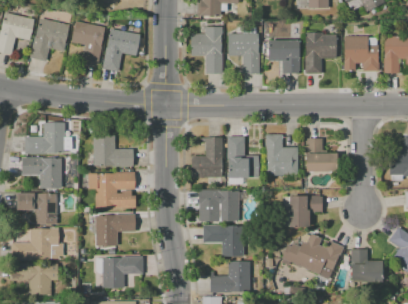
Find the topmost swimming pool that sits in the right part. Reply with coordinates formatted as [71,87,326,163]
[310,174,332,186]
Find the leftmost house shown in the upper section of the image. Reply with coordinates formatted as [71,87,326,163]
[0,11,32,60]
